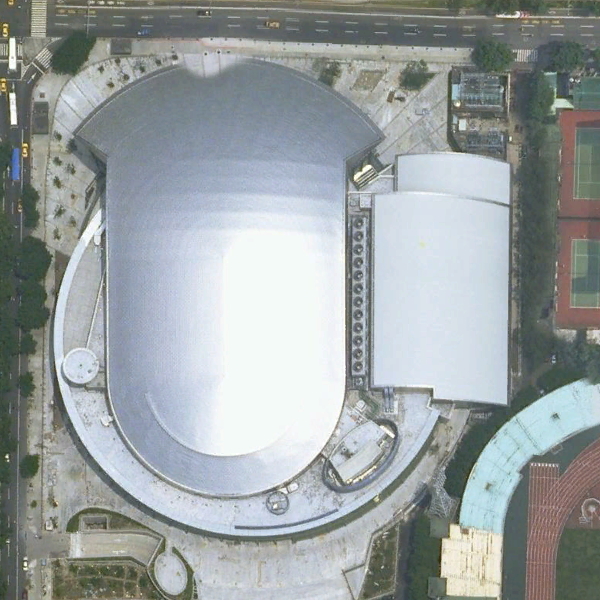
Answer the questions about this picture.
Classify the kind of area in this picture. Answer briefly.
sports ground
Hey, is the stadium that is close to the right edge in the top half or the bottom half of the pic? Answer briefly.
bottom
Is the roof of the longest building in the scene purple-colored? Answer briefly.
No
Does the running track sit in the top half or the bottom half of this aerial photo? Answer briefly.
bottom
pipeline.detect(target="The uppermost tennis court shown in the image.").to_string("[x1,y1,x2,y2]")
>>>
[574,77,600,109]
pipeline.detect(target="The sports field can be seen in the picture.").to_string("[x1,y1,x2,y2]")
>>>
[558,478,600,600]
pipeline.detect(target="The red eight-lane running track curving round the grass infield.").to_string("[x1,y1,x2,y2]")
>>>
[526,439,600,600]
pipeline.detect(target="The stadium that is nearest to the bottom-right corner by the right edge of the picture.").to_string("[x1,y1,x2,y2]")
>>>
[441,375,600,600]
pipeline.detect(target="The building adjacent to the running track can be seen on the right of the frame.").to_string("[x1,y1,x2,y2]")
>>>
[371,152,511,419]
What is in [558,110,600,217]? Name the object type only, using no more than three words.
tennis court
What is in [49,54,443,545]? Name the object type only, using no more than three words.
stadium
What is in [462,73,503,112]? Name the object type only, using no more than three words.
house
